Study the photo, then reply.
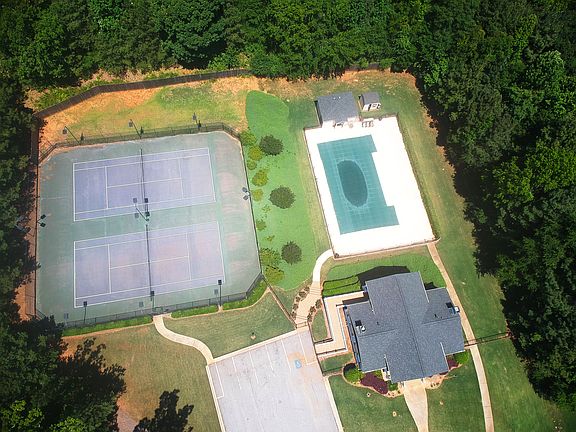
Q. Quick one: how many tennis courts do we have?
two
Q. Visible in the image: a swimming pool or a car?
swimming pool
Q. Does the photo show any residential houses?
Yes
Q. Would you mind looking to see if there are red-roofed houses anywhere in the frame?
No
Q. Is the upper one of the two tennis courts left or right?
left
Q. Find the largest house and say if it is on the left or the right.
right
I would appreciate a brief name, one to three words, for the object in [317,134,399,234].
swimming pool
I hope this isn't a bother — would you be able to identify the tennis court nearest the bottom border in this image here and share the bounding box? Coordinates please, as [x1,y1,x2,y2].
[74,221,226,308]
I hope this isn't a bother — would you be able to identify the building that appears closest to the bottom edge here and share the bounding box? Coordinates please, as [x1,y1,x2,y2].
[343,272,466,383]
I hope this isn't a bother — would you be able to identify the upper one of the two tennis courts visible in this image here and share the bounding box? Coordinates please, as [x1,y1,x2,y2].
[74,147,215,221]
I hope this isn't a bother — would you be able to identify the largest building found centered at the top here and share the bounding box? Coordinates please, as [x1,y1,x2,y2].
[315,93,359,129]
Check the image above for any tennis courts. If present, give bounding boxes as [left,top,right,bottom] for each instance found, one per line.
[74,221,226,308]
[74,147,215,221]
